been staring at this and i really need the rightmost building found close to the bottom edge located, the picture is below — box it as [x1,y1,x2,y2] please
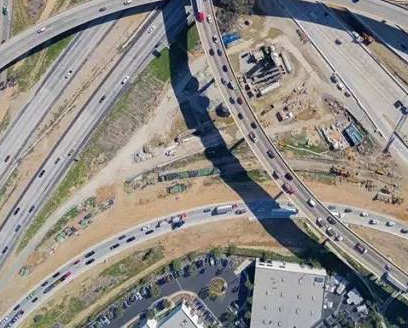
[249,258,326,328]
